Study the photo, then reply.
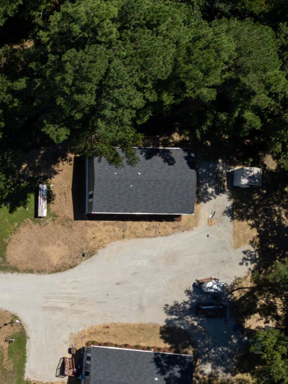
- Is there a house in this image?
Yes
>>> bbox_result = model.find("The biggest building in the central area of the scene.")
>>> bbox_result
[86,136,201,214]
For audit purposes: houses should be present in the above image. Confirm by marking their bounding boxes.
[63,345,195,384]
[86,136,201,214]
